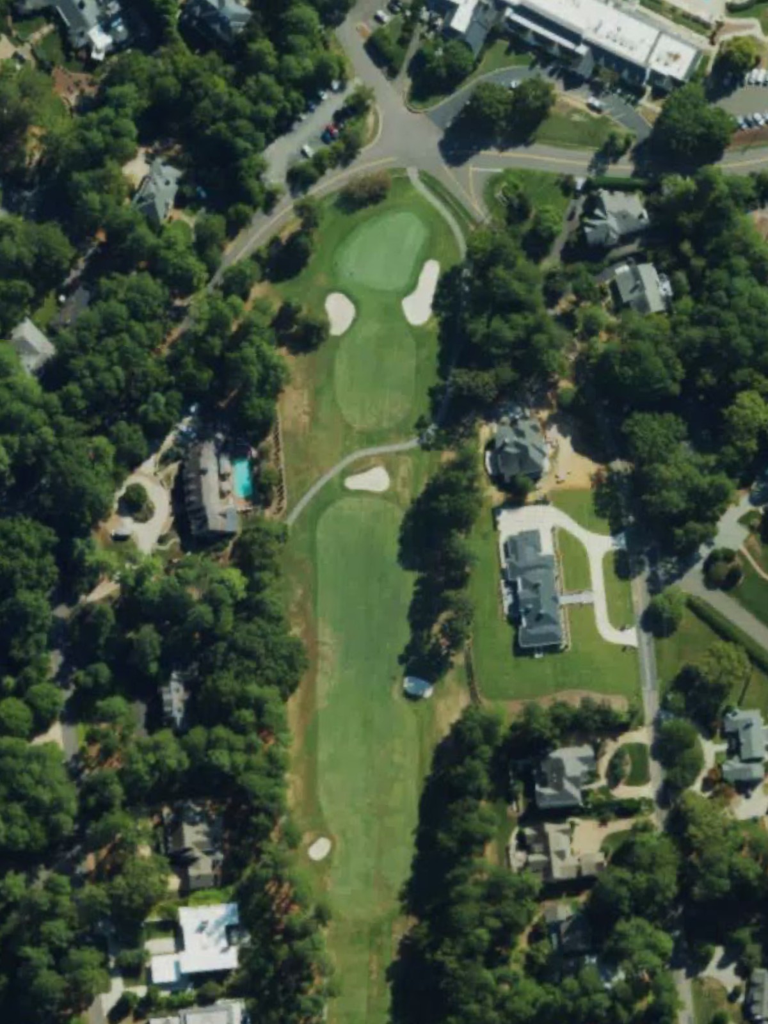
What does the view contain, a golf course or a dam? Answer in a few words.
golf course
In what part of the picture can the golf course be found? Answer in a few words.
center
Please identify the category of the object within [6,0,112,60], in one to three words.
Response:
house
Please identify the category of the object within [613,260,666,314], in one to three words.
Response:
house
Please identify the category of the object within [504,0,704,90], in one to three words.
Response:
building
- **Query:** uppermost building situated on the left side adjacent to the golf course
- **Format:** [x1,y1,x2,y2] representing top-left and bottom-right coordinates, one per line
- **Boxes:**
[184,441,237,542]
